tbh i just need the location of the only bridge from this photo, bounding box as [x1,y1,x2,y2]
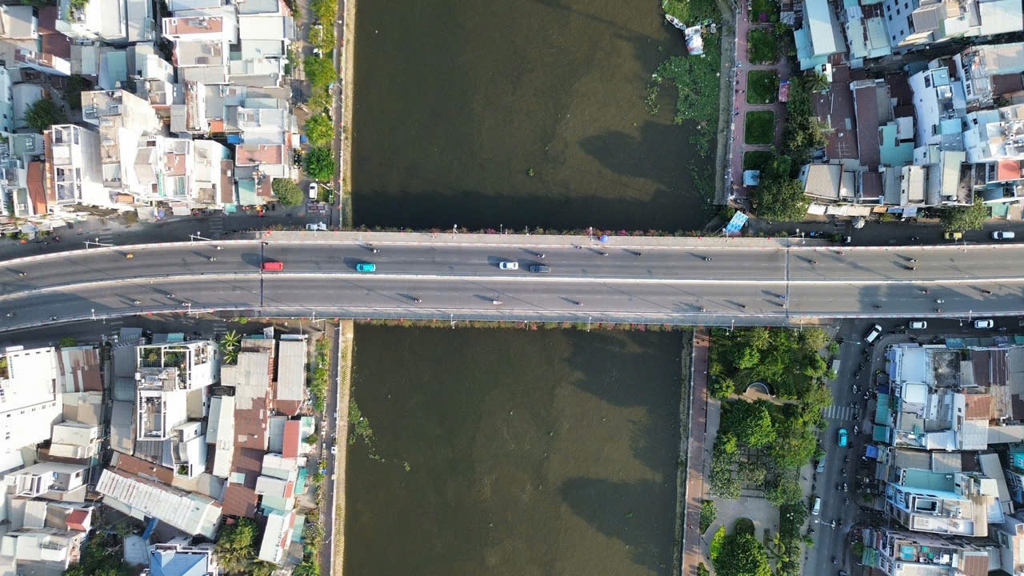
[0,228,1024,332]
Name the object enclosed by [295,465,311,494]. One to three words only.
shed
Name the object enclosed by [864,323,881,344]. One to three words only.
vehicle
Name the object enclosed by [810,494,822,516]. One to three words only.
vehicle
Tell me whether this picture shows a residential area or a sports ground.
residential area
